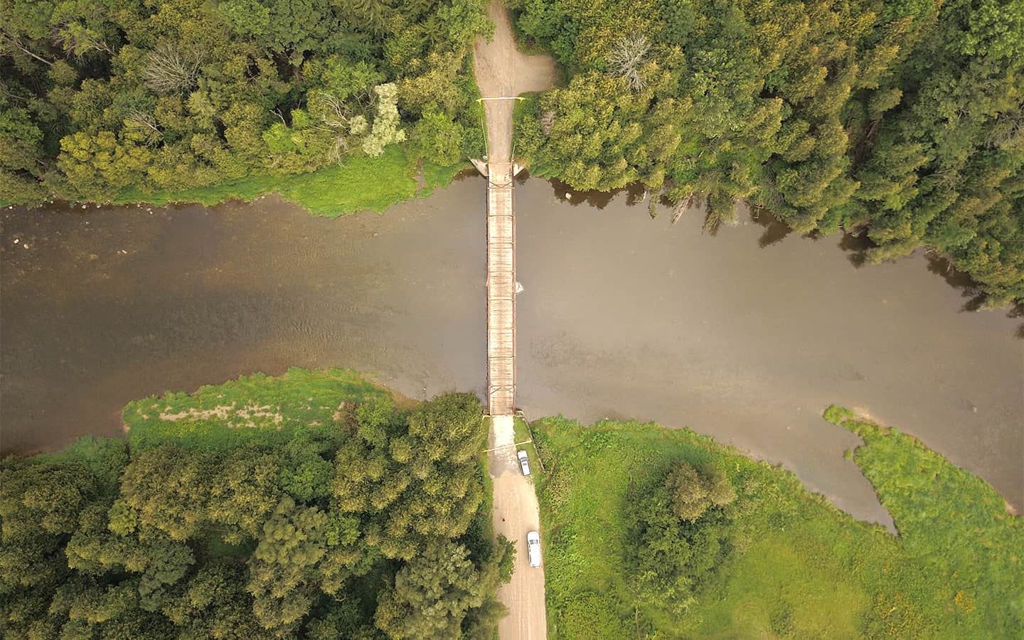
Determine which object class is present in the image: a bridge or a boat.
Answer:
bridge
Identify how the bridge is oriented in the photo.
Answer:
from top to bottom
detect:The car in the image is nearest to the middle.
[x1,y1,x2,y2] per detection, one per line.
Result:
[517,449,531,476]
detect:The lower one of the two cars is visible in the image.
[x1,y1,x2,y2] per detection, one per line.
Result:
[527,531,541,569]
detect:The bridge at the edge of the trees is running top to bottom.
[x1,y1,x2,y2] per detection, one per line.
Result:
[473,158,525,418]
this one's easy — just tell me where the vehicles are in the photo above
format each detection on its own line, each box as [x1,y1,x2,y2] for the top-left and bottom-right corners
[527,531,541,569]
[517,449,531,476]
